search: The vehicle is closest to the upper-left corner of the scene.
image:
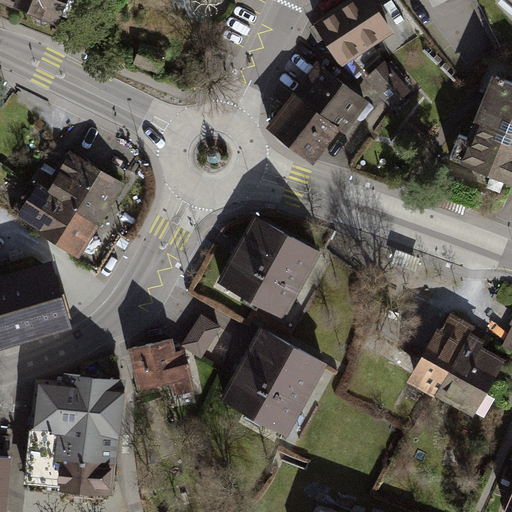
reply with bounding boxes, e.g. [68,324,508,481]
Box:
[84,126,99,148]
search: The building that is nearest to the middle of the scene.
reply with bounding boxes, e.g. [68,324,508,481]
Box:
[217,214,320,318]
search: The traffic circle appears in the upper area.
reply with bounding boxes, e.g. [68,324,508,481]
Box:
[144,82,294,232]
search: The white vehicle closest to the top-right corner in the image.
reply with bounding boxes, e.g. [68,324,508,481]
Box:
[384,0,404,24]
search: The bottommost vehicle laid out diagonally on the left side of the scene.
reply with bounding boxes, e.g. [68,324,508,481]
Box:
[101,256,118,276]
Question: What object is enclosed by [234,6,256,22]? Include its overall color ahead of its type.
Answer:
white car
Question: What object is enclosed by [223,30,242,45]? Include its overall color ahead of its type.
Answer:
white car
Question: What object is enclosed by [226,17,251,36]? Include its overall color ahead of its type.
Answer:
white vehicle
